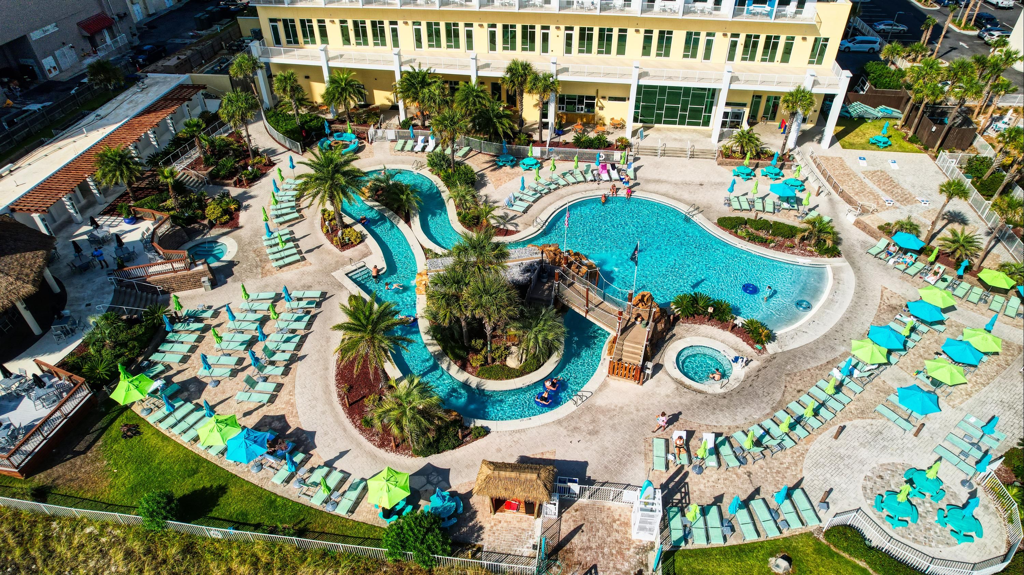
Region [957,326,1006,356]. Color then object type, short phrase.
green umbrella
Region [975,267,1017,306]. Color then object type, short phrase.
green umbrella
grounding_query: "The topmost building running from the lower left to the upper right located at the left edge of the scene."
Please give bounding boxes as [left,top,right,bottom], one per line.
[0,72,211,246]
